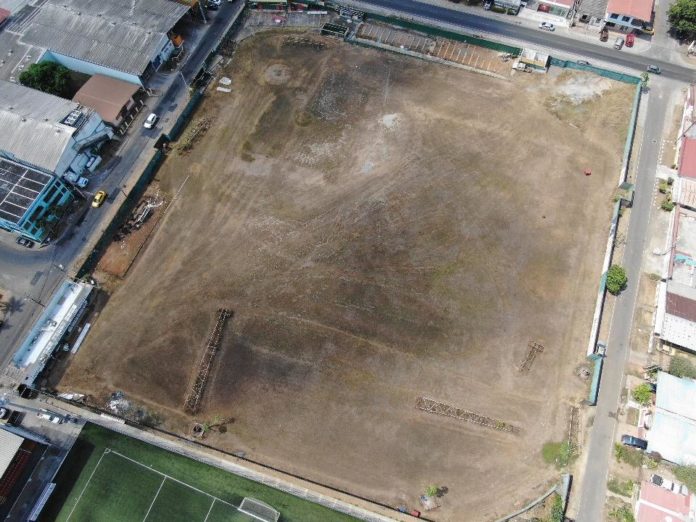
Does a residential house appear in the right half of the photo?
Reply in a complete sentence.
Yes, I can see a residential house in the right half of the photo.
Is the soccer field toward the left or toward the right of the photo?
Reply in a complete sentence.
The soccer field is on the left side of the image.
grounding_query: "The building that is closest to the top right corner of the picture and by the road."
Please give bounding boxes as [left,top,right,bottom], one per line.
[598,0,655,42]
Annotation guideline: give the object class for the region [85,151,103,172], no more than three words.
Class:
vehicle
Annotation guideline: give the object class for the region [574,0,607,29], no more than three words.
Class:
house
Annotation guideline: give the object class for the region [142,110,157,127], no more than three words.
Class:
car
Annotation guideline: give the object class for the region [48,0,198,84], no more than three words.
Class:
building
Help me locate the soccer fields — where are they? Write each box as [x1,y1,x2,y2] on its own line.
[37,421,368,522]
